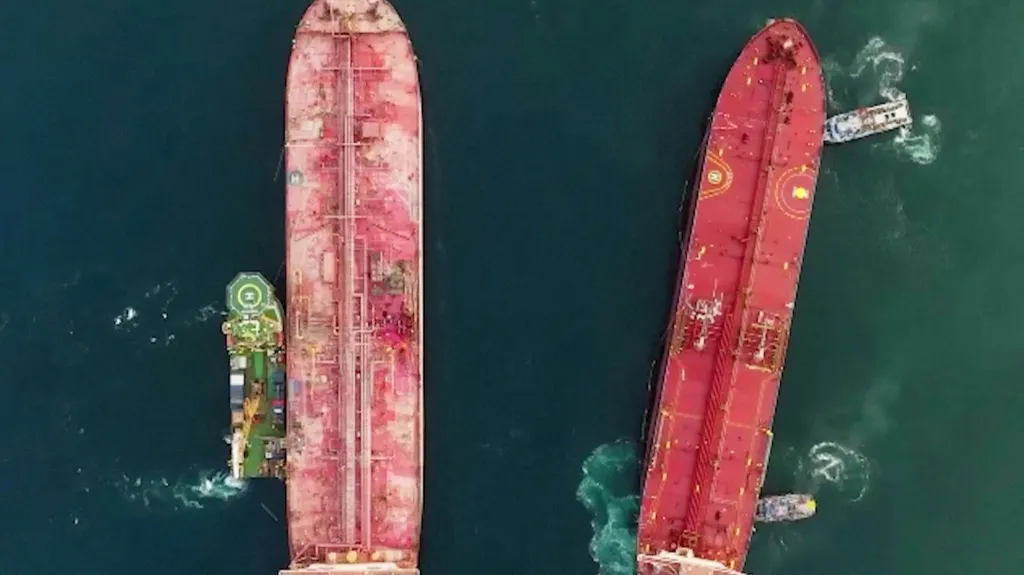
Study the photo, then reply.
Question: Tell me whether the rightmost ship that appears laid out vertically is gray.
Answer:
No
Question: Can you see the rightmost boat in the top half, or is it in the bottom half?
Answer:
top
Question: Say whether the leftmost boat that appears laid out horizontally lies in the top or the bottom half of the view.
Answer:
bottom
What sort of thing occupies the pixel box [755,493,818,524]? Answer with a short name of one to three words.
boat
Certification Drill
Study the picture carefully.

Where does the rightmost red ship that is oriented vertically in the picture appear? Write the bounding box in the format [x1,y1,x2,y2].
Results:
[637,17,827,575]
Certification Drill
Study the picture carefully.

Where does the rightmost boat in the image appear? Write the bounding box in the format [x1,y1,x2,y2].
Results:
[823,99,910,142]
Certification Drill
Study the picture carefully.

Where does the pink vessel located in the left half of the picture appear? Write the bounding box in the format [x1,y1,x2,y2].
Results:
[279,0,425,575]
